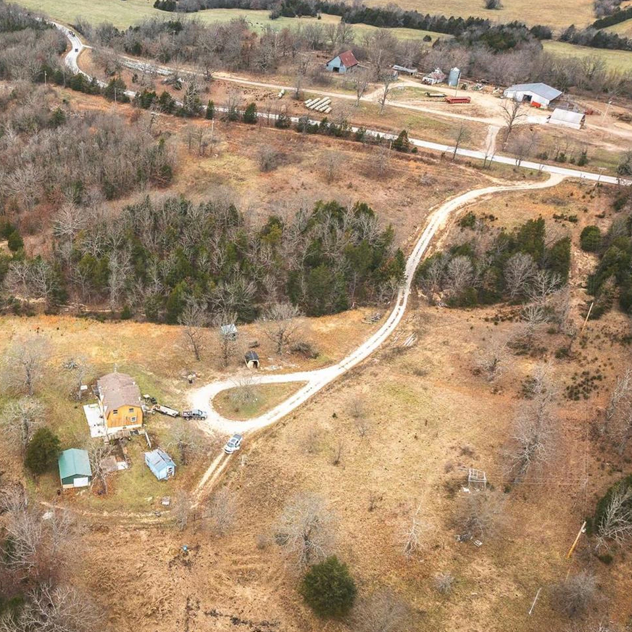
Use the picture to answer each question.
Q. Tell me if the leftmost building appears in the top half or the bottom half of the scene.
bottom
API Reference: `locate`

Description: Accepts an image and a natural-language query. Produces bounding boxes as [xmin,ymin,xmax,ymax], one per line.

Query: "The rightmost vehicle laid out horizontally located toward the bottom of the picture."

[180,410,210,423]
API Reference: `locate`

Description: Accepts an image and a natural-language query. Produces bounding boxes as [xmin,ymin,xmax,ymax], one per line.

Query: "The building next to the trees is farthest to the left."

[57,445,93,489]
